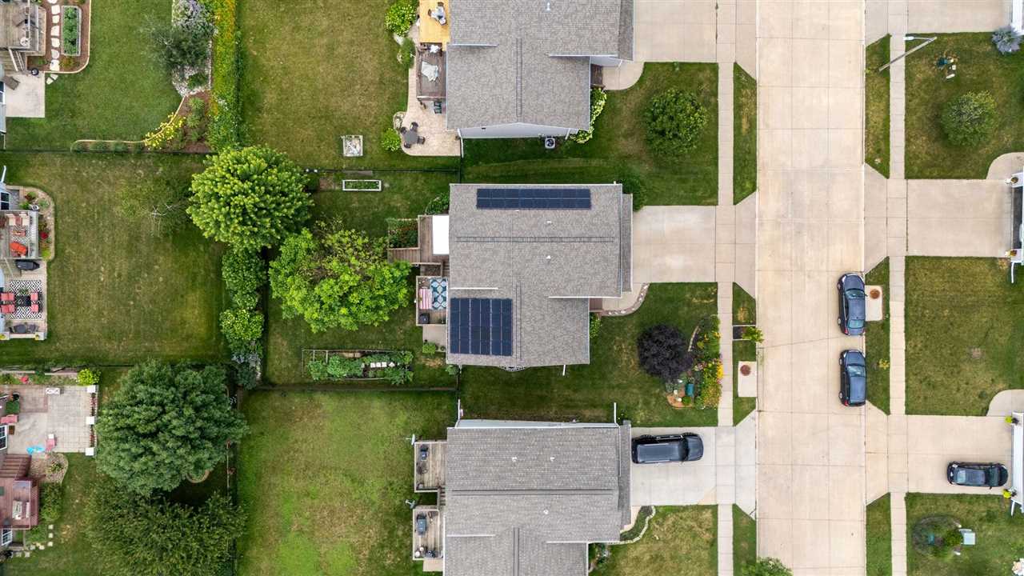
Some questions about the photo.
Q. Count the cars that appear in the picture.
4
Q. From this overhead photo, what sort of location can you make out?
residential area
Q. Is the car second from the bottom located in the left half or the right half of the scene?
right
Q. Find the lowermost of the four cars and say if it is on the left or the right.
right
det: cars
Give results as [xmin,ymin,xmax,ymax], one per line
[947,462,1009,491]
[635,435,703,467]
[839,274,872,336]
[840,350,873,408]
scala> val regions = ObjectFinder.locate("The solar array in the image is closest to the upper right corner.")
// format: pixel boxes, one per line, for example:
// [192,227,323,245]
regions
[477,189,591,209]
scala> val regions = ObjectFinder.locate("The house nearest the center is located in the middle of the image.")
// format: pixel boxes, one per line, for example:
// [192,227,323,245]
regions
[447,180,632,376]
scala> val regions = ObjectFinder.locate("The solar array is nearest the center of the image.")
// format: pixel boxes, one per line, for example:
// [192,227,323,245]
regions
[451,298,512,356]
